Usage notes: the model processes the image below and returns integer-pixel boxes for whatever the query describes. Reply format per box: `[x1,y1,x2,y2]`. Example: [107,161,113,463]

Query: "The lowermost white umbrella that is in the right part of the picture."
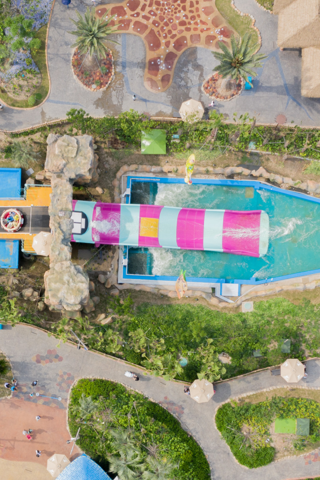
[189,378,213,402]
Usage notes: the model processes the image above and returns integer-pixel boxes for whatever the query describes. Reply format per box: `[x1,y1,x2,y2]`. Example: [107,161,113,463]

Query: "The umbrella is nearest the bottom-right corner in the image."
[279,358,305,383]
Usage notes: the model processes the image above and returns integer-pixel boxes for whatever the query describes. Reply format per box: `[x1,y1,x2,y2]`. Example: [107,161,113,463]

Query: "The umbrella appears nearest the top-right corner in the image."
[179,98,204,124]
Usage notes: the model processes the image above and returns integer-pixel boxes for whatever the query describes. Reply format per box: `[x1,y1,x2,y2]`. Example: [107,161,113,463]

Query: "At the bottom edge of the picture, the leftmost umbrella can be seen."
[46,451,71,476]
